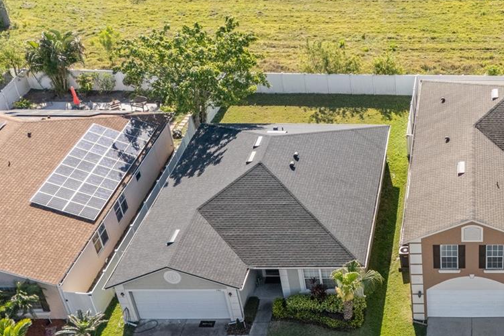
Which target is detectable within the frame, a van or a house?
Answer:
house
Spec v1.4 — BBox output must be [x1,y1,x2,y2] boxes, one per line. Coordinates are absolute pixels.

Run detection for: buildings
[399,81,504,320]
[0,110,174,324]
[103,124,392,327]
